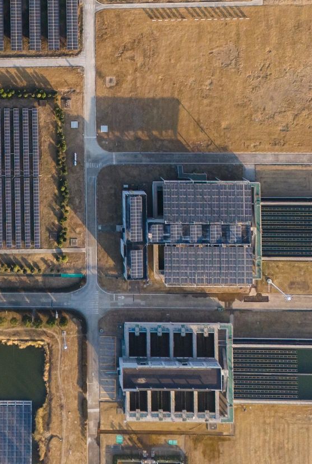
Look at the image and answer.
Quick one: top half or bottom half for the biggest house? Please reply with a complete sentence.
The bottom half of the photo is where the biggest house is.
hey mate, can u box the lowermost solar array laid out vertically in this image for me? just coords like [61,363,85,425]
[131,250,143,278]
